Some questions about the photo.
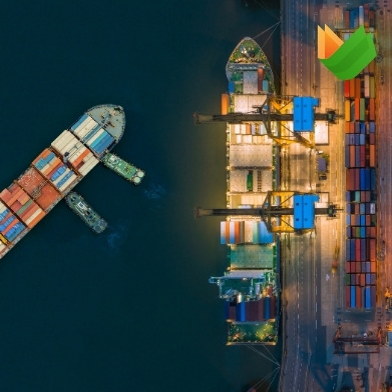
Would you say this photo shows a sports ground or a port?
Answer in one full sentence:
This looks like a port.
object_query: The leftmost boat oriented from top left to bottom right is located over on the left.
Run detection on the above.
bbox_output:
[67,191,108,234]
